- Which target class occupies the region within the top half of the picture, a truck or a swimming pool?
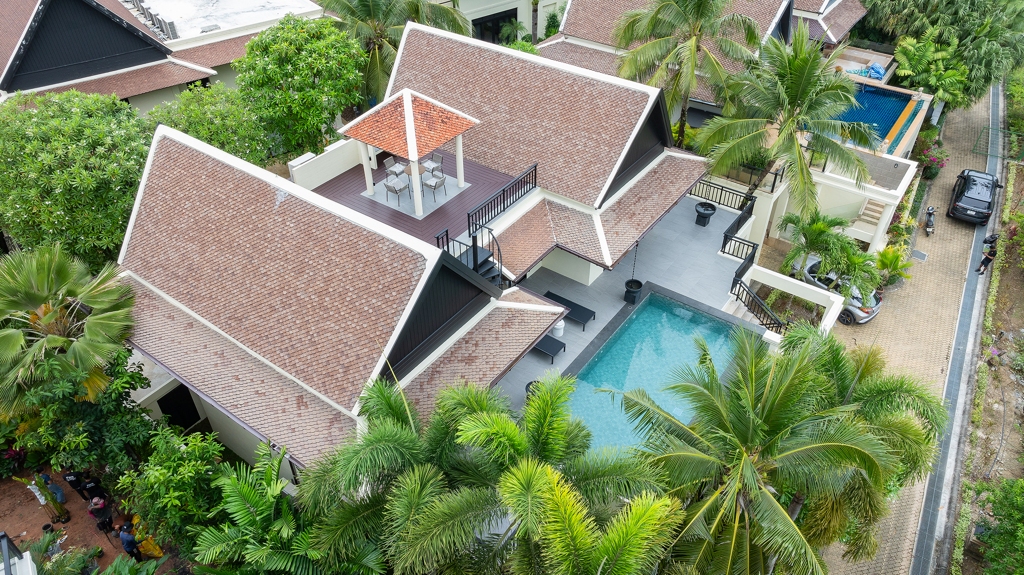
swimming pool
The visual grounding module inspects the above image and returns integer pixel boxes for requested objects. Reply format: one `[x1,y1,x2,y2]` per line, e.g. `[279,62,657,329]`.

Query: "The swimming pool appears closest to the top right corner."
[781,73,939,169]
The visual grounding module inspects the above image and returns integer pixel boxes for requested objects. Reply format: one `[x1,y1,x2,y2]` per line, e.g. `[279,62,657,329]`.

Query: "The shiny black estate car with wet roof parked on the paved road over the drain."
[947,170,1003,225]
